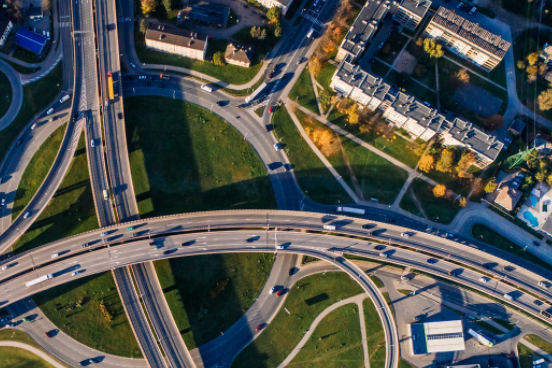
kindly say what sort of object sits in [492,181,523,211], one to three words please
house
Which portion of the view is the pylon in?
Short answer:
right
